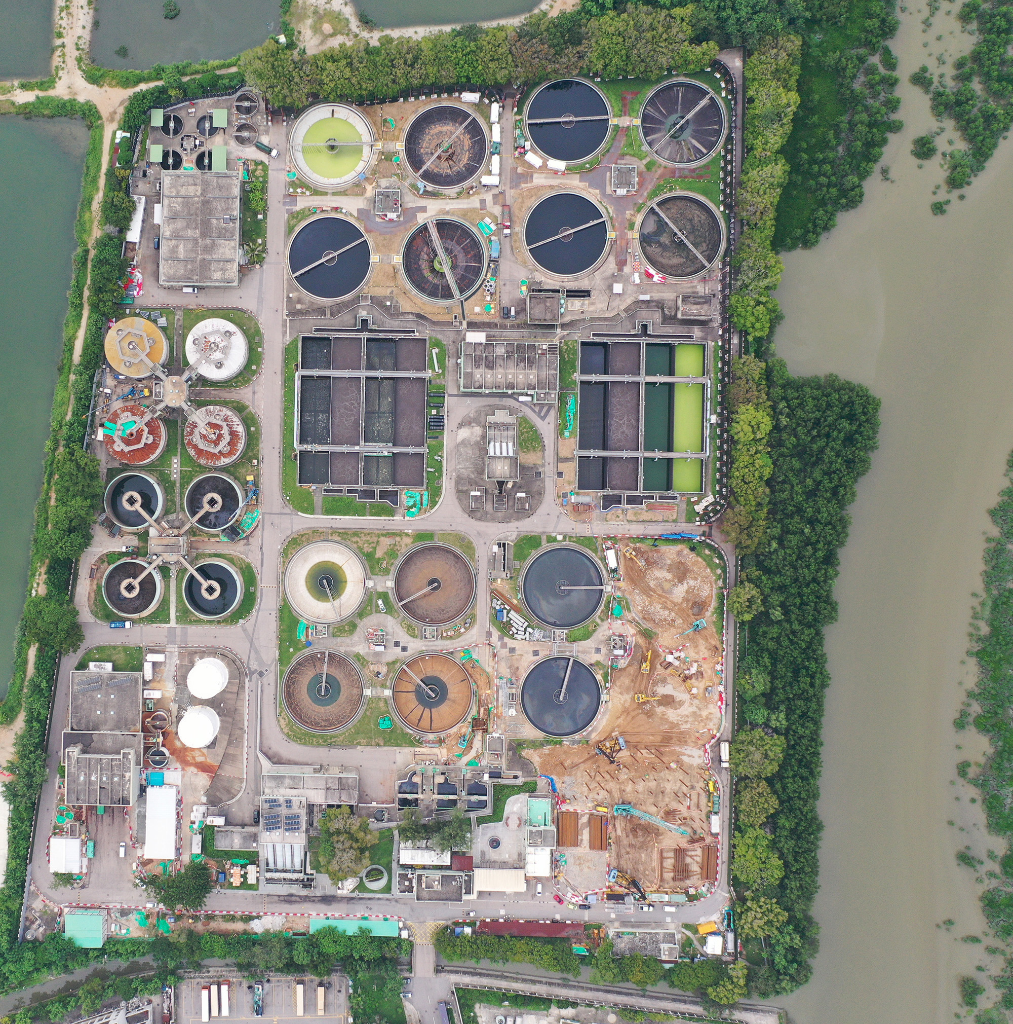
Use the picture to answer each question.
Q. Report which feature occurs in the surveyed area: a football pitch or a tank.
tank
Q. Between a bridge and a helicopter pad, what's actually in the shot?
bridge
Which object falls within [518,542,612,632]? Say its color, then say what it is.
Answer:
gray storage tank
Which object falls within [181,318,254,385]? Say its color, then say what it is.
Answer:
white storage tank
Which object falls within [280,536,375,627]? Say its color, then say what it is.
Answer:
white storage tank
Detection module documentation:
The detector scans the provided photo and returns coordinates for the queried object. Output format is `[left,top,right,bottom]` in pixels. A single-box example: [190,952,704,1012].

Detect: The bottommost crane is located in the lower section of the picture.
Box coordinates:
[609,865,652,906]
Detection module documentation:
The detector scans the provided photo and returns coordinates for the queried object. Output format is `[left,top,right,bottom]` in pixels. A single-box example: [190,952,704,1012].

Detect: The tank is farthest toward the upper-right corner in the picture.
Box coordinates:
[632,78,728,171]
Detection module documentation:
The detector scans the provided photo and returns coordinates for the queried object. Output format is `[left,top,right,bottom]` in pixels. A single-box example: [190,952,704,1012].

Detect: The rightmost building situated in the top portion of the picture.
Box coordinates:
[678,295,713,321]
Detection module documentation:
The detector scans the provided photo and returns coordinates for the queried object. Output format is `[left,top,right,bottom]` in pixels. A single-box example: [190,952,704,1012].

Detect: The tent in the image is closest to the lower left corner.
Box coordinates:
[50,834,86,873]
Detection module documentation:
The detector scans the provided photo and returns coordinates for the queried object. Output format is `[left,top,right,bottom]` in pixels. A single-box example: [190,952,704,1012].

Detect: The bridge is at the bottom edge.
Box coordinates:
[413,942,437,977]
